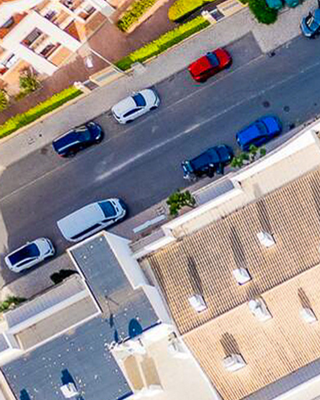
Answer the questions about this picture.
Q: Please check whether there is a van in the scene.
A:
Yes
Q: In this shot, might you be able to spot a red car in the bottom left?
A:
No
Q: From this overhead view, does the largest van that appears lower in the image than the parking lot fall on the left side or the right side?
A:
left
